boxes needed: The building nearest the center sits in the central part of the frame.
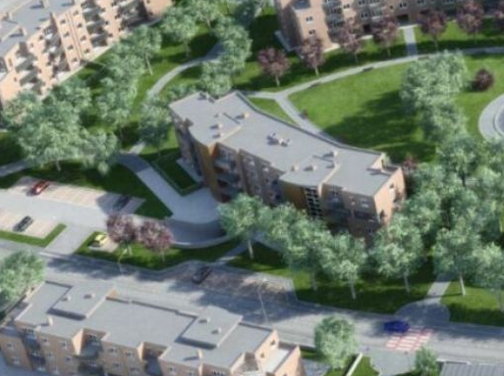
[169,92,405,241]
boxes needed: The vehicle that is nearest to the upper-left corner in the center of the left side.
[29,177,49,193]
